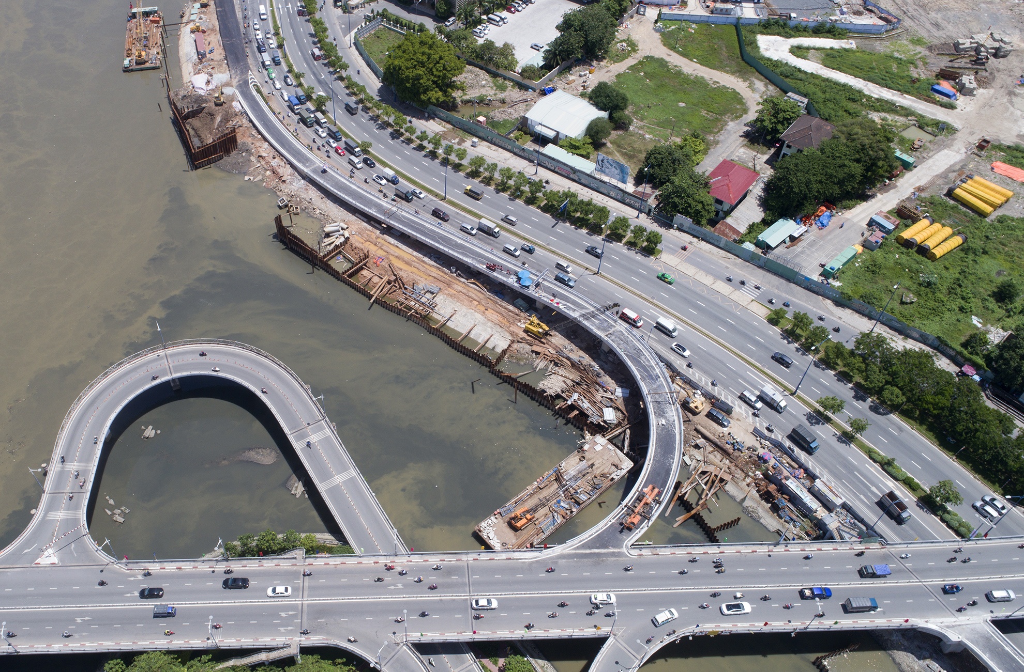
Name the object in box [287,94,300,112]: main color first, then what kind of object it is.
blue vehicle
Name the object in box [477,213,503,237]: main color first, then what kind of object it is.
white truck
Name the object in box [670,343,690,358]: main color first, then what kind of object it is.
white car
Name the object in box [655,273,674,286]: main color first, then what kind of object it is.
green vehicle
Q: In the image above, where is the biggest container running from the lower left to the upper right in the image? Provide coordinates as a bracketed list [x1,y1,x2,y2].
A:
[816,242,866,280]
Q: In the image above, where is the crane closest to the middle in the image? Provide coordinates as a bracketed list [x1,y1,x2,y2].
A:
[522,306,618,339]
